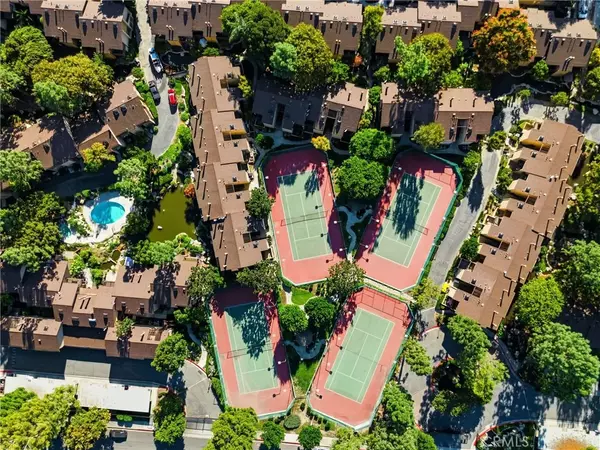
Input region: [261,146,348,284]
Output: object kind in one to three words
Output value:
tennis court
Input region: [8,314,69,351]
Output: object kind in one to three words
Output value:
house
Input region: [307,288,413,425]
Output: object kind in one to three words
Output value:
tennis court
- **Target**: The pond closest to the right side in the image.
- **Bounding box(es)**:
[148,189,206,244]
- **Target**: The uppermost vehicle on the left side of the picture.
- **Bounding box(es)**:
[149,48,163,73]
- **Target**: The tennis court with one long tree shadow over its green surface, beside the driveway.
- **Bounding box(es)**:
[357,149,461,290]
